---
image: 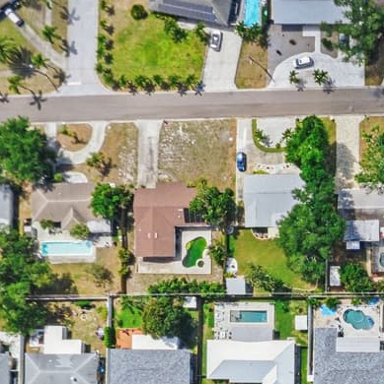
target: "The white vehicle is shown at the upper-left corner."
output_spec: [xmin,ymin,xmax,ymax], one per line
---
[2,6,24,27]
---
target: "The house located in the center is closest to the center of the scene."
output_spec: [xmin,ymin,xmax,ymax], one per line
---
[128,183,208,258]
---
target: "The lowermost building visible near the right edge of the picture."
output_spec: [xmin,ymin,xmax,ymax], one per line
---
[311,327,384,384]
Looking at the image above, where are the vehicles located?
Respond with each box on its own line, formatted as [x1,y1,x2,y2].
[236,152,246,171]
[293,54,313,66]
[209,29,221,50]
[2,6,24,27]
[339,28,348,47]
